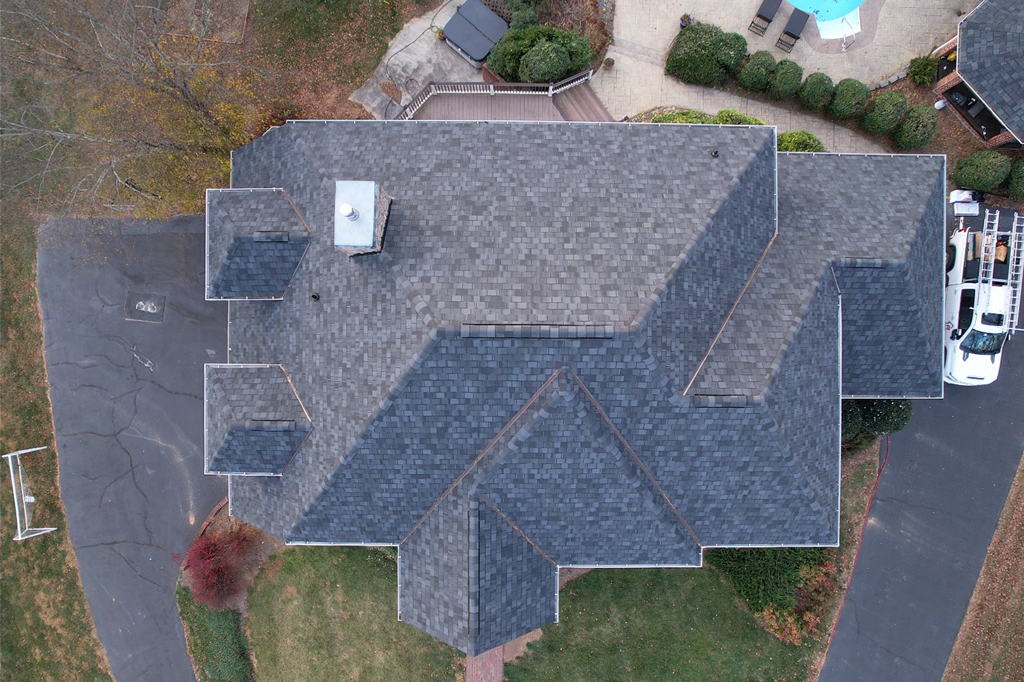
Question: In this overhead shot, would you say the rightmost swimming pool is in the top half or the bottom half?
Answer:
top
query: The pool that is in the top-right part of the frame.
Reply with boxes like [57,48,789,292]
[780,0,886,53]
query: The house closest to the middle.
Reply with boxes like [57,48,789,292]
[205,120,947,656]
